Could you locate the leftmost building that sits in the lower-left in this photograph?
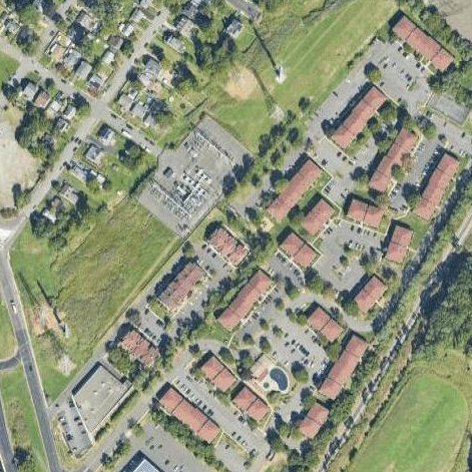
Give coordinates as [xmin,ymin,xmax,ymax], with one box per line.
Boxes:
[72,365,133,441]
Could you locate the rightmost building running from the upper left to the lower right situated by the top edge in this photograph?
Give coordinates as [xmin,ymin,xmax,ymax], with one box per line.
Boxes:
[392,15,454,71]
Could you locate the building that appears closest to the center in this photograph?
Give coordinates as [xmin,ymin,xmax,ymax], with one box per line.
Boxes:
[207,229,249,265]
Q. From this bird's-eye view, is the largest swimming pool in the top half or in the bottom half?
bottom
